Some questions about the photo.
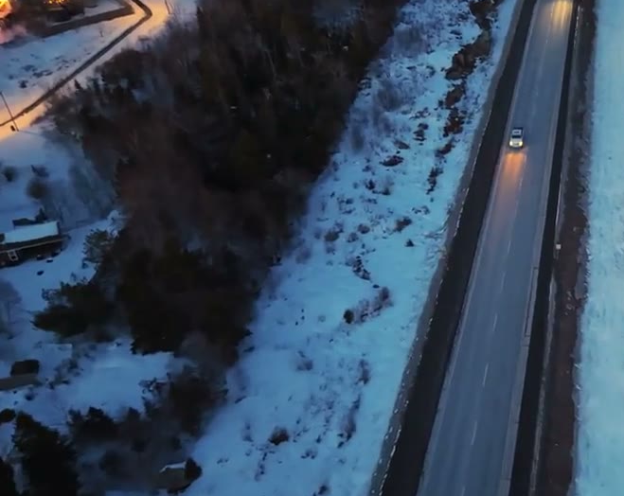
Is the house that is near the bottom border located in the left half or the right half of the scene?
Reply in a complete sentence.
It is on the left.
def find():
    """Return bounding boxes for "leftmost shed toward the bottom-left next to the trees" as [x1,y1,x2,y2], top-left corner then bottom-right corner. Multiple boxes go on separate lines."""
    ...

[0,355,46,392]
